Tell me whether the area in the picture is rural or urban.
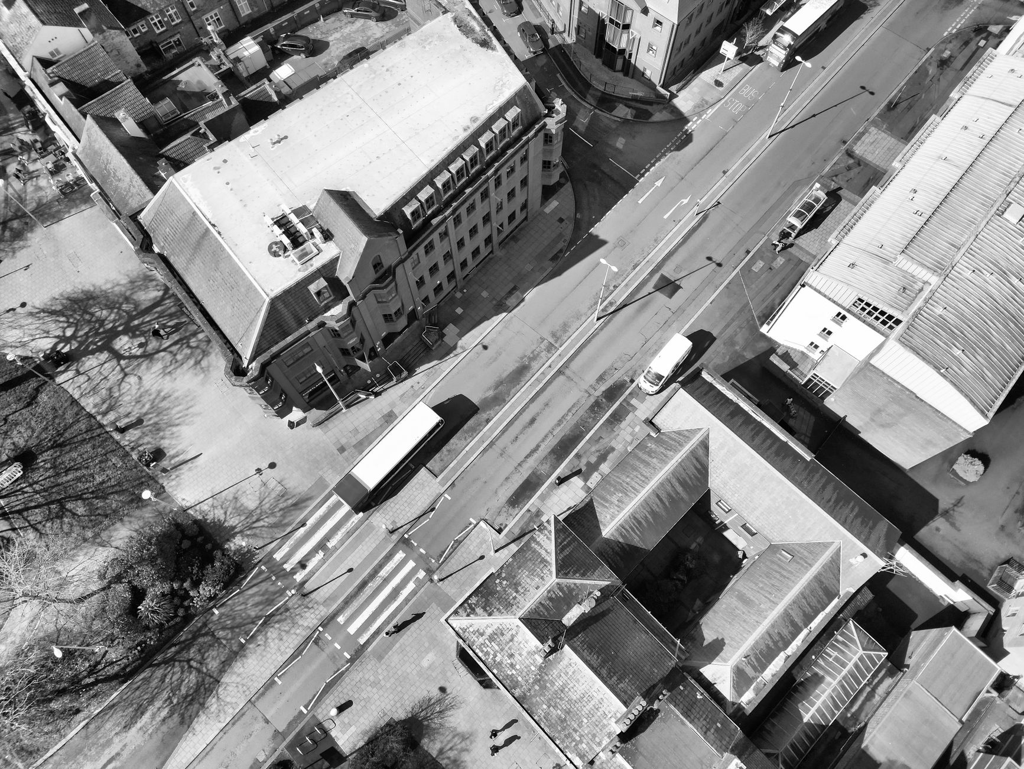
urban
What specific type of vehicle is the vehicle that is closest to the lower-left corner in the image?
bus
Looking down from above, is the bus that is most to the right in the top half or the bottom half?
top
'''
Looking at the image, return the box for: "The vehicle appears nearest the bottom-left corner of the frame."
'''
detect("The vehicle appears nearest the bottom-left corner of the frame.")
[332,403,444,517]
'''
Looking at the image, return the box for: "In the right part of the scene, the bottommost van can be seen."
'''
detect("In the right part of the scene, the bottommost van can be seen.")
[640,328,693,391]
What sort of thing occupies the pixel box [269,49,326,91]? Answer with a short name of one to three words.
truck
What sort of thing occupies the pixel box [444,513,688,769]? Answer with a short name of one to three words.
house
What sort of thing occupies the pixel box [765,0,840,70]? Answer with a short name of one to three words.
bus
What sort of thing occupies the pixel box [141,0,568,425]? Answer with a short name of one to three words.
building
